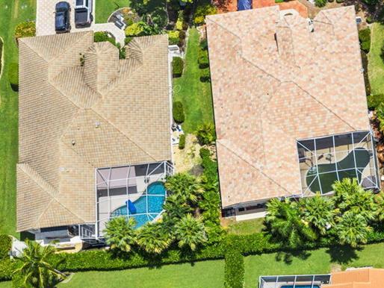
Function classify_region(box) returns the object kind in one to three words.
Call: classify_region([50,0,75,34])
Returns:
car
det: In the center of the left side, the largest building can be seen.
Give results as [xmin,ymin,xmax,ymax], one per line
[16,30,176,232]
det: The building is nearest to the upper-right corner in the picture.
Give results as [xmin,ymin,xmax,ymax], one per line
[205,5,370,210]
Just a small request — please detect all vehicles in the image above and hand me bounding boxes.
[50,0,75,34]
[236,0,256,10]
[72,0,97,31]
